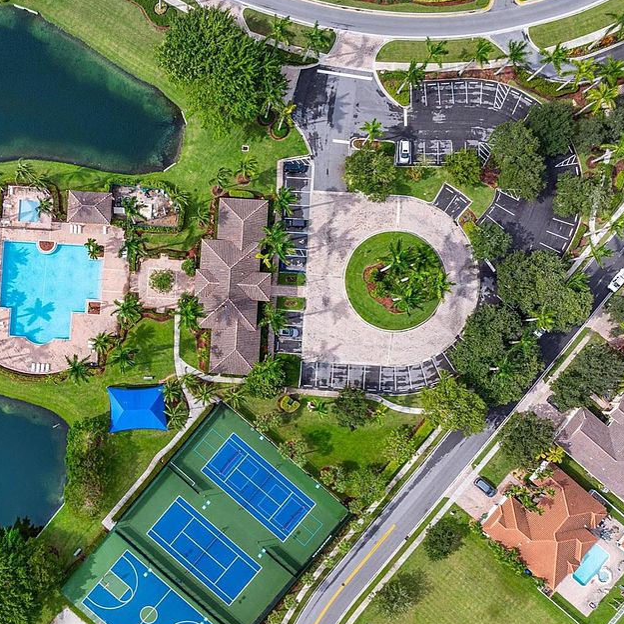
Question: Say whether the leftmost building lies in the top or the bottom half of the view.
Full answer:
The leftmost building is in the top half of the image.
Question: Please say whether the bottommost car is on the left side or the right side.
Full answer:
The bottommost car is on the right side of the image.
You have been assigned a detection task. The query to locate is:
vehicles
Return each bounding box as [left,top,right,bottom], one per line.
[285,161,308,172]
[530,324,552,341]
[400,141,411,163]
[476,477,498,498]
[608,272,624,294]
[285,218,308,229]
[278,328,300,337]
